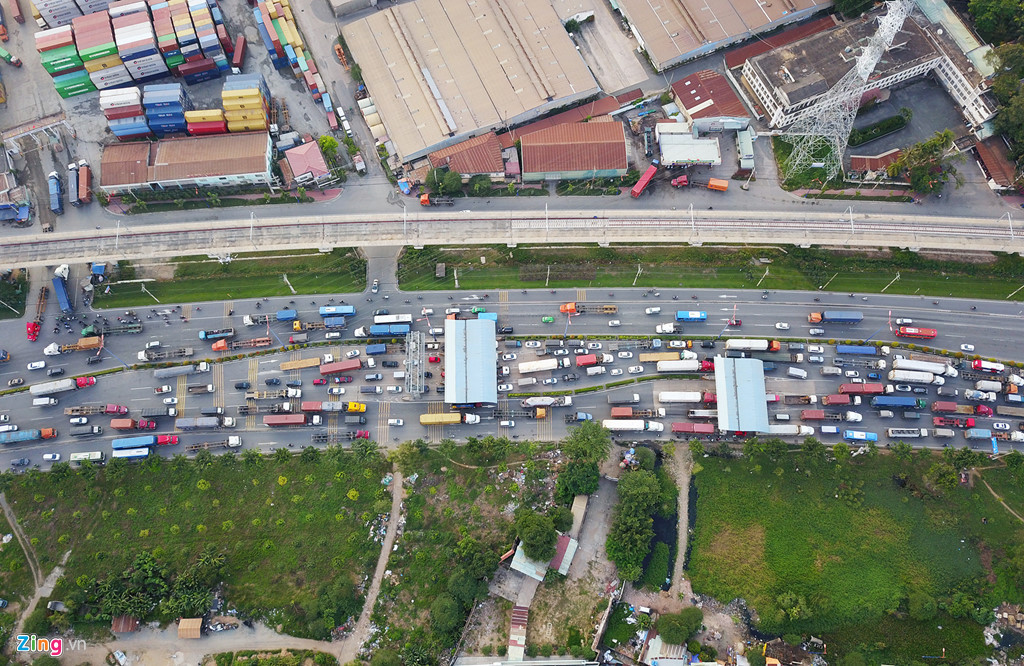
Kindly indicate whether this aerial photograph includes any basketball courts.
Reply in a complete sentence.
No, no basketball court is visible in the view.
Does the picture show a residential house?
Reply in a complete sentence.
Yes, there's a residential house down there.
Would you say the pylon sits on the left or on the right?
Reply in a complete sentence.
You can find the pylon on the right side of the picture.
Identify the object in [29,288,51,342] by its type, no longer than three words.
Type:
truck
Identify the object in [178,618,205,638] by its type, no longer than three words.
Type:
shed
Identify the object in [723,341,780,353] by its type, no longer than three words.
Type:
vehicle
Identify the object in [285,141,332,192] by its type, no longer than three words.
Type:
house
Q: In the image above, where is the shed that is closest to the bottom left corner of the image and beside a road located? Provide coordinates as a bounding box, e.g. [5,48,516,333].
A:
[112,616,143,632]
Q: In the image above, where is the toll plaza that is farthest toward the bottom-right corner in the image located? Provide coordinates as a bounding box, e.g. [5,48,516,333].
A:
[687,358,785,439]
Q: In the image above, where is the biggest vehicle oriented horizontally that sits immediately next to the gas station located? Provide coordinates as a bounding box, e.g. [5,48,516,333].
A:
[670,176,728,193]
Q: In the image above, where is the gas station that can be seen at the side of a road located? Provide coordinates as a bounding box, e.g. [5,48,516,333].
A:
[660,134,721,171]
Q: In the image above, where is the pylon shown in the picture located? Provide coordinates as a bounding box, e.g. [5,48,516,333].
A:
[781,0,924,184]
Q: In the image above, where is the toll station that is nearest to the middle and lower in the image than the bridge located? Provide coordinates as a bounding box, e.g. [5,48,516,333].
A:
[424,318,520,409]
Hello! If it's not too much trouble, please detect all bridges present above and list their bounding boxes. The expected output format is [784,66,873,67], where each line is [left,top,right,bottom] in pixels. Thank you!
[0,210,1024,274]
